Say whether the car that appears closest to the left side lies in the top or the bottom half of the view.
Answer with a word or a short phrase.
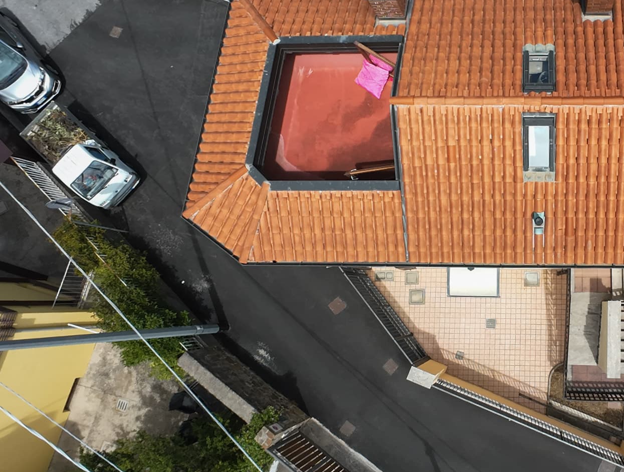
top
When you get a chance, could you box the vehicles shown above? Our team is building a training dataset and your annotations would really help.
[15,99,144,211]
[0,1,66,109]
